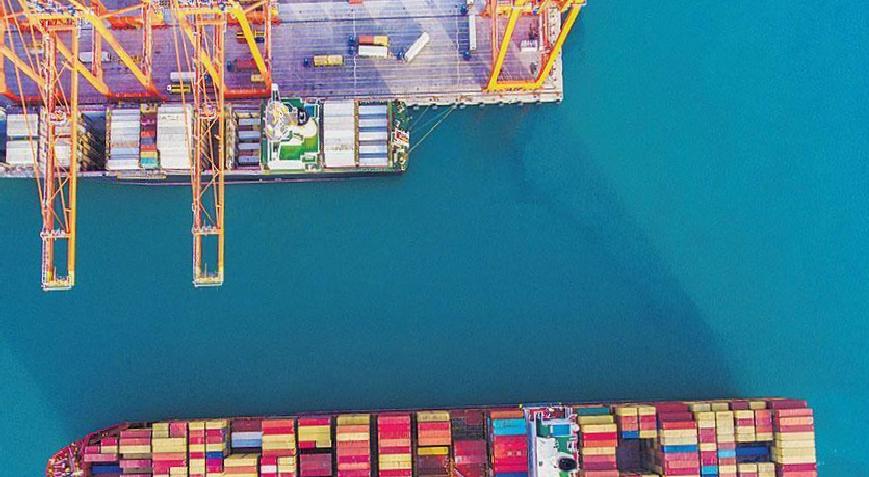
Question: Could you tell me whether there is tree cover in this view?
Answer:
No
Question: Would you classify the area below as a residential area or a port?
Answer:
port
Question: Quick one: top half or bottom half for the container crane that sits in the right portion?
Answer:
top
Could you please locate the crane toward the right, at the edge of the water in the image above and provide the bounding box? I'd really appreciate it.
[482,0,582,89]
